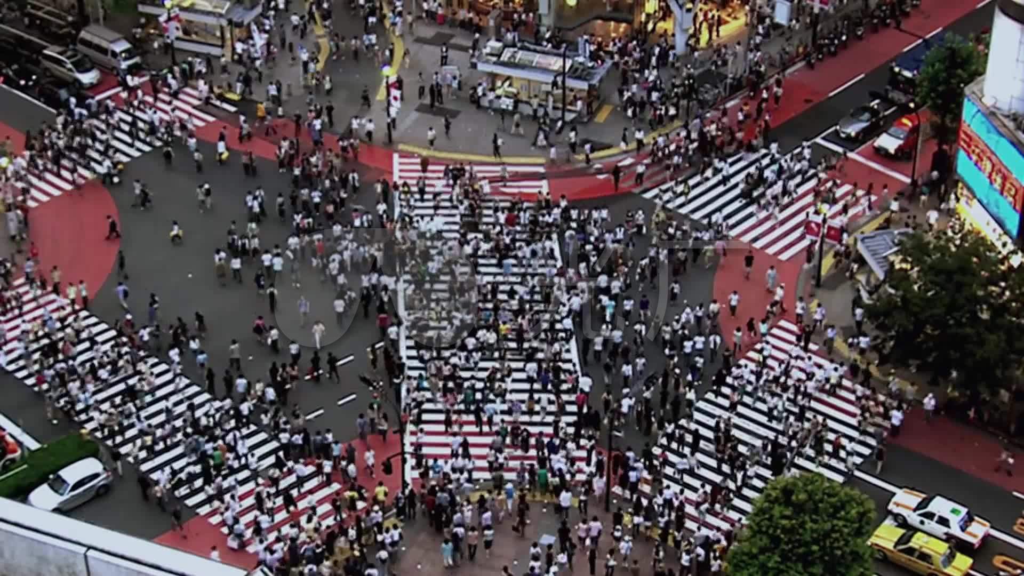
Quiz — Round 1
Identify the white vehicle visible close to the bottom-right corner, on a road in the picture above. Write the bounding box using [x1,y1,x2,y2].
[881,486,997,550]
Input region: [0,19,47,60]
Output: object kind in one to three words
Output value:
car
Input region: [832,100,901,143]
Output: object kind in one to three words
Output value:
car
